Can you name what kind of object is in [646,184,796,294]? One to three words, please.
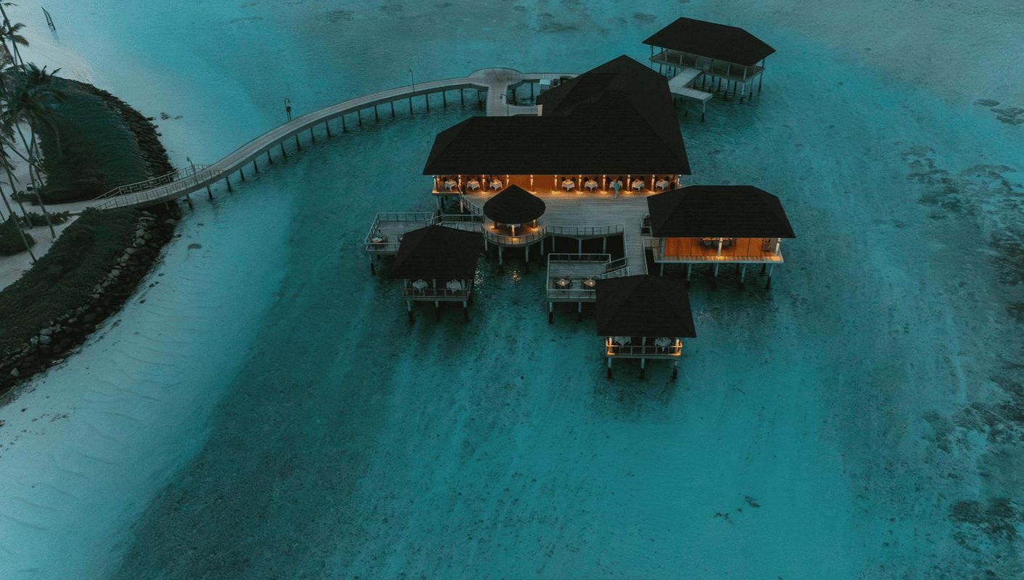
building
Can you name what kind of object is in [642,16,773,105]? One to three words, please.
building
